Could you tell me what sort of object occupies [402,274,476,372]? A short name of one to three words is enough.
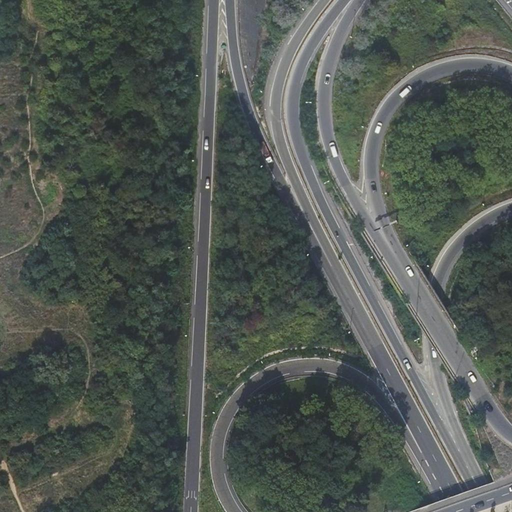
overpass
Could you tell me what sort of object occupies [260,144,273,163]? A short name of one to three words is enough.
vehicle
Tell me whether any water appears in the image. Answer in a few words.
No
